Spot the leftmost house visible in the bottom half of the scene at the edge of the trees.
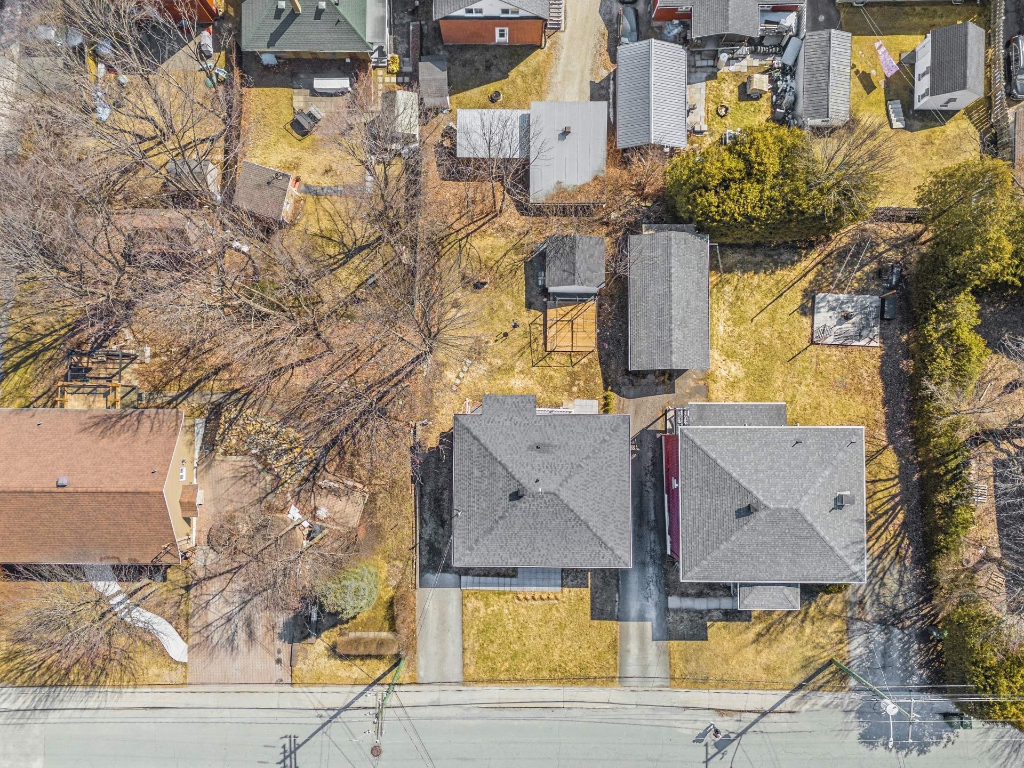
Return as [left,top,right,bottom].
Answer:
[0,409,204,564]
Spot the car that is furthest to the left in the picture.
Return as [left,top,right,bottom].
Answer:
[612,0,639,58]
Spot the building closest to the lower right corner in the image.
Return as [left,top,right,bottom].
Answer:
[660,403,868,611]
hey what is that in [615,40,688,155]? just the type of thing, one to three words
building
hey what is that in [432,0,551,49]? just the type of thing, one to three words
house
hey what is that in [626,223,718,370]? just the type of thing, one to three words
building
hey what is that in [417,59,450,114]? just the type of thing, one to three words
shed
